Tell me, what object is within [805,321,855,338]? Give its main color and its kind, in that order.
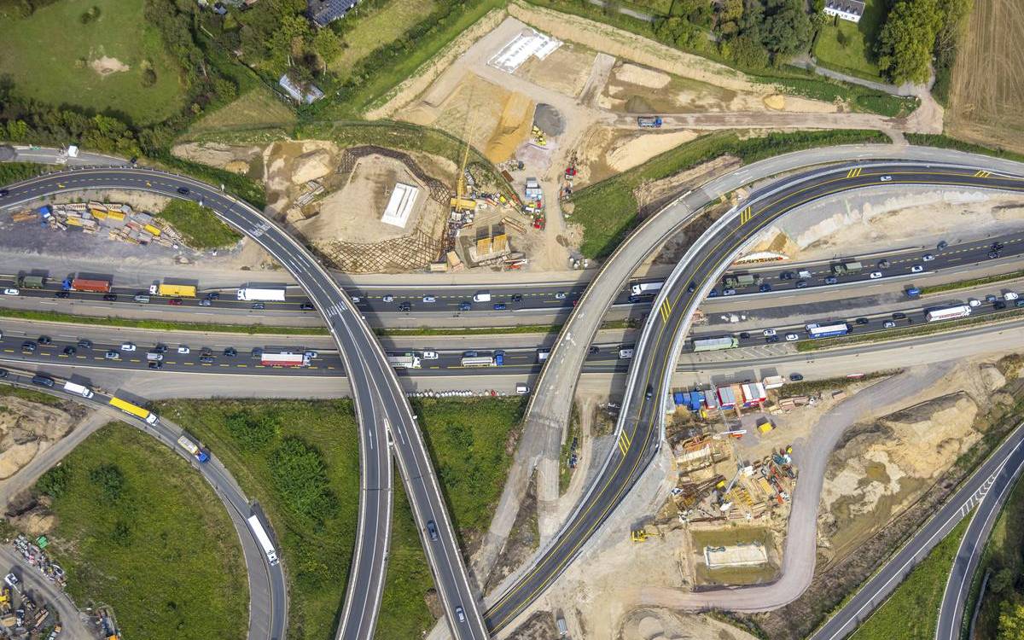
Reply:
white vehicle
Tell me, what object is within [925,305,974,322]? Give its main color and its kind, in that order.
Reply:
white vehicle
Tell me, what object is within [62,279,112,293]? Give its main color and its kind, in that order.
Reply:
red vehicle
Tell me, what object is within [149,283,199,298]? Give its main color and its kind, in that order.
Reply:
yellow vehicle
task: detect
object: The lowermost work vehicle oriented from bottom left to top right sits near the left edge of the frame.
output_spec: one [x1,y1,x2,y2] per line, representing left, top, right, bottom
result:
[0,586,20,609]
